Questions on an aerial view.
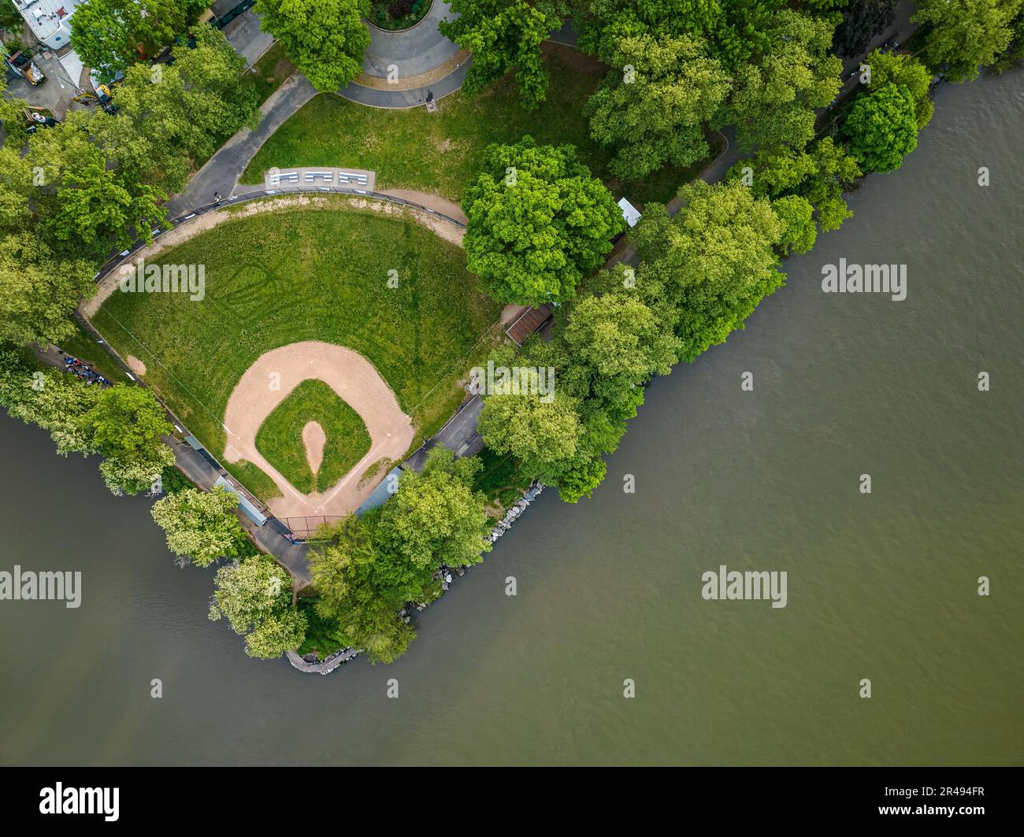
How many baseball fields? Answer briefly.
1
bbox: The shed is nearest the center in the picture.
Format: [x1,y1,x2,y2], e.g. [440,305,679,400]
[505,292,562,347]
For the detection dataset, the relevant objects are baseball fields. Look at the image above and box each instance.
[81,194,524,538]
